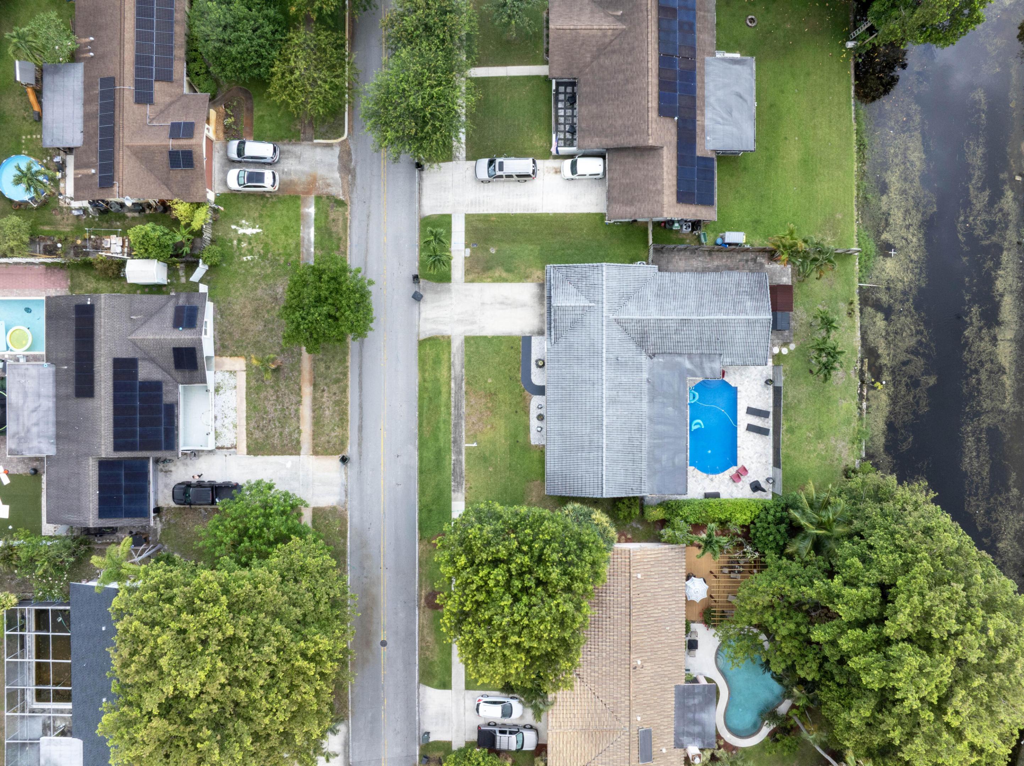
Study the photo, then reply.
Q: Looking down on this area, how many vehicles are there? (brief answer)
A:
seven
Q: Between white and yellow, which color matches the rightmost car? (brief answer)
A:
white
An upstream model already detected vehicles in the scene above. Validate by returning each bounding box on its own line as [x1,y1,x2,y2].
[475,154,537,184]
[476,692,523,721]
[560,155,605,181]
[477,721,539,752]
[227,166,281,193]
[227,136,282,166]
[172,480,245,509]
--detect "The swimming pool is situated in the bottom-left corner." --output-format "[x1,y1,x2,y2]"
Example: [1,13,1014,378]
[32,609,71,705]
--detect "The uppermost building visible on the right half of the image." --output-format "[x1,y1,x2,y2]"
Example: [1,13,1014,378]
[549,0,756,222]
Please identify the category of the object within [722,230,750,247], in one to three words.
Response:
shed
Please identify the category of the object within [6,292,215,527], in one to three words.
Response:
house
